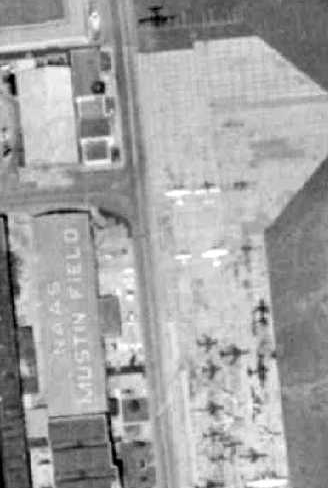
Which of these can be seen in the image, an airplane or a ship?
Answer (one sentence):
The image shows an airplane.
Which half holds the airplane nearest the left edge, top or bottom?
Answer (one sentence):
You can find the airplane nearest the left edge in the top half.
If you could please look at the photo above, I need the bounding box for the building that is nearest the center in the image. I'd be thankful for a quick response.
[101,294,122,337]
